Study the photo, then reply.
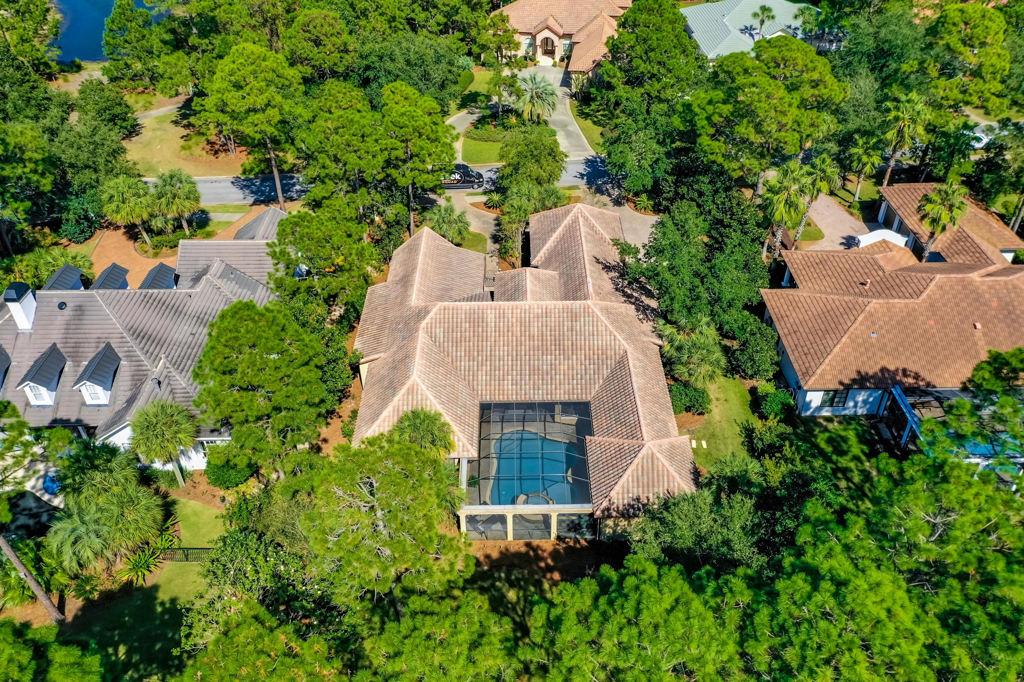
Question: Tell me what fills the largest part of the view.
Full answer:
The scene is dominated by trees.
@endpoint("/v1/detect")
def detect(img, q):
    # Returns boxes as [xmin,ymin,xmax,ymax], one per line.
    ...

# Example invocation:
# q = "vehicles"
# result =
[954,131,994,148]
[435,161,485,189]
